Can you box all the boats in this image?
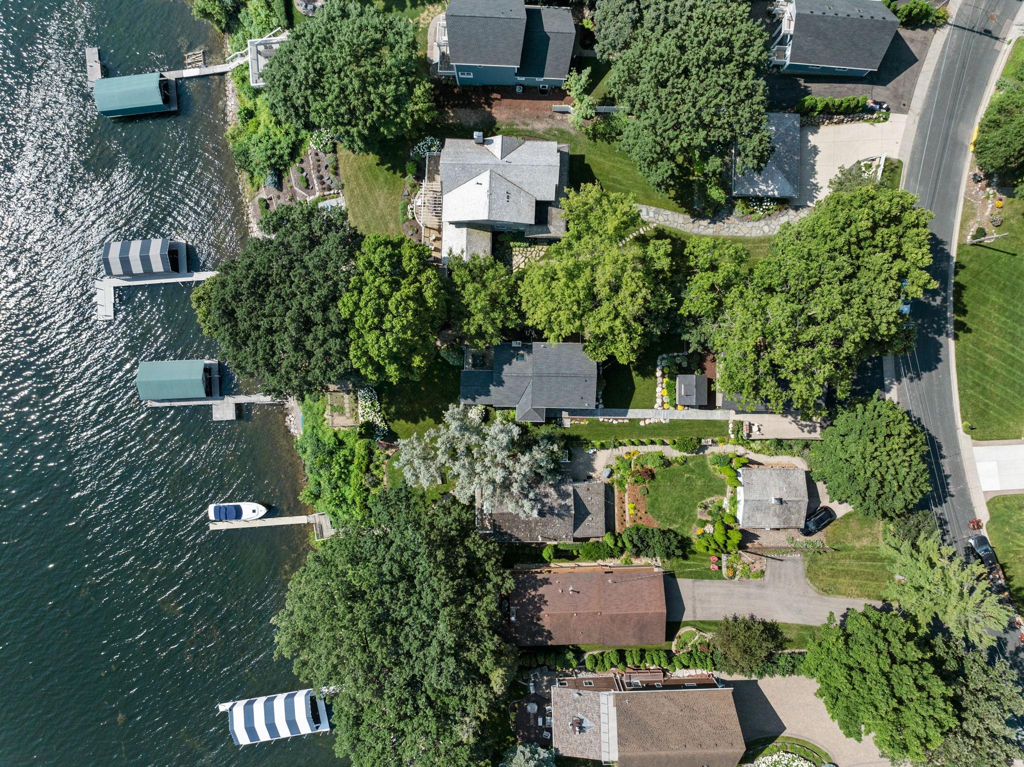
[204,503,267,523]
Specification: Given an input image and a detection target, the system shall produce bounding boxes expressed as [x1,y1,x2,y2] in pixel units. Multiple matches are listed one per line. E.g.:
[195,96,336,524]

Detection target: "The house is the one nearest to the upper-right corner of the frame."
[765,0,901,80]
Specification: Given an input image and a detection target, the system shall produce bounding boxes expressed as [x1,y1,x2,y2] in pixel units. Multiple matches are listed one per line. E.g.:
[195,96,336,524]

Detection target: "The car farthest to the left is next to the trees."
[797,502,839,538]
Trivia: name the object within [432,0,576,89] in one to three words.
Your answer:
house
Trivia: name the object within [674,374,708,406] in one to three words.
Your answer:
shed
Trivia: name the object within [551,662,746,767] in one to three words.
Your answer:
house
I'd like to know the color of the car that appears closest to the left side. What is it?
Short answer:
black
